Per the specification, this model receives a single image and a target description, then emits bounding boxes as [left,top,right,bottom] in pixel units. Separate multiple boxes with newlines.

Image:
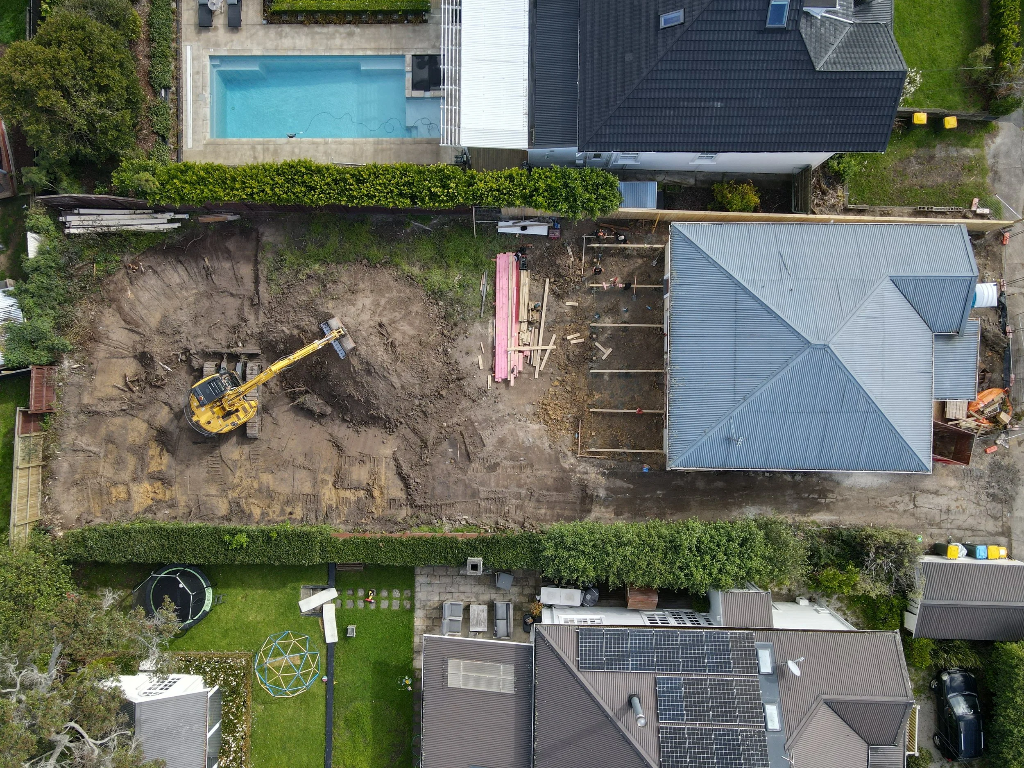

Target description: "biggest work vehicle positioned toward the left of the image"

[184,313,363,439]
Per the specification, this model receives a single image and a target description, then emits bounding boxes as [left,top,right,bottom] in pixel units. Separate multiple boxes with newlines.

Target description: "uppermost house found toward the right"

[528,0,910,175]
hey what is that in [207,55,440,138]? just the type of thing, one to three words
swimming pool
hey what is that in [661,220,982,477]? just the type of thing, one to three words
house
